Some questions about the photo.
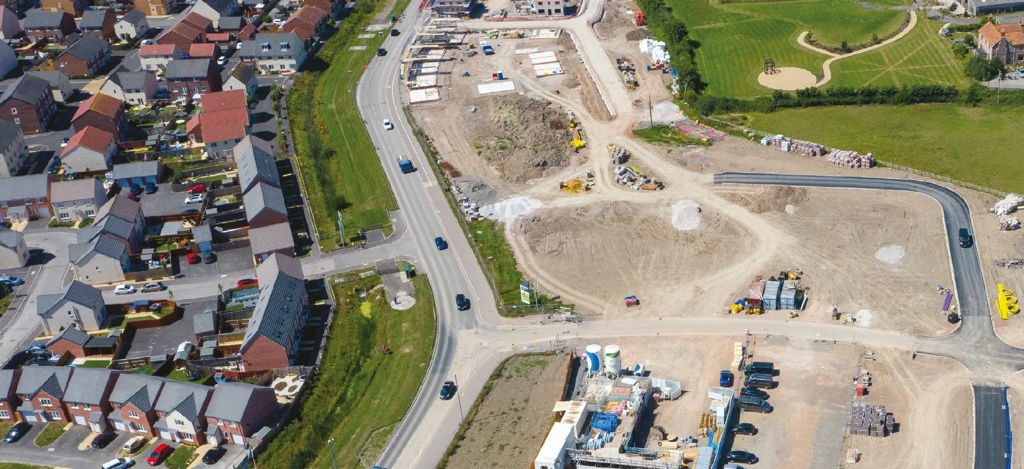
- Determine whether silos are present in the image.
Yes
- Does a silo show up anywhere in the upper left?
No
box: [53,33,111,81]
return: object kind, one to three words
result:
house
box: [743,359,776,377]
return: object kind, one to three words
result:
vehicle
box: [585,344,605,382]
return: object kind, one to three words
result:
silo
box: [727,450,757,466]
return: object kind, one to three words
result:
car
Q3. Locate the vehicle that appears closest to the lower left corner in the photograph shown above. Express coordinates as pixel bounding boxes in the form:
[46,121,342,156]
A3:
[3,418,33,440]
